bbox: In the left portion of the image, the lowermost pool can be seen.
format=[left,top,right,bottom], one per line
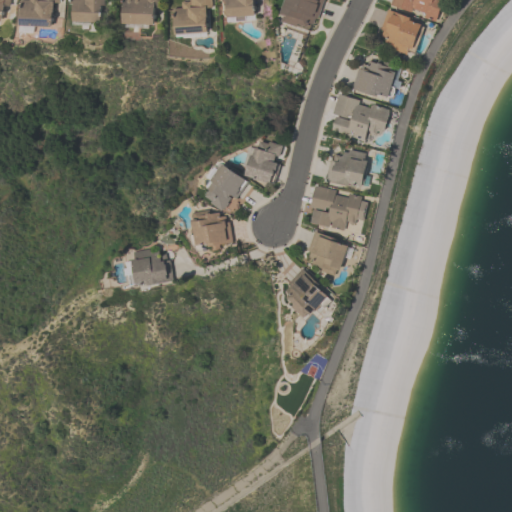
[114,263,128,284]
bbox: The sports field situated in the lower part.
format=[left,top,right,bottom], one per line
[277,374,314,416]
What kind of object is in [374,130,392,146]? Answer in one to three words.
swimming pool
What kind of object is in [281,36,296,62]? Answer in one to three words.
swimming pool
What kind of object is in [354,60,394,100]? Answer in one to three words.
house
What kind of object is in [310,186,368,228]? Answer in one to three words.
house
